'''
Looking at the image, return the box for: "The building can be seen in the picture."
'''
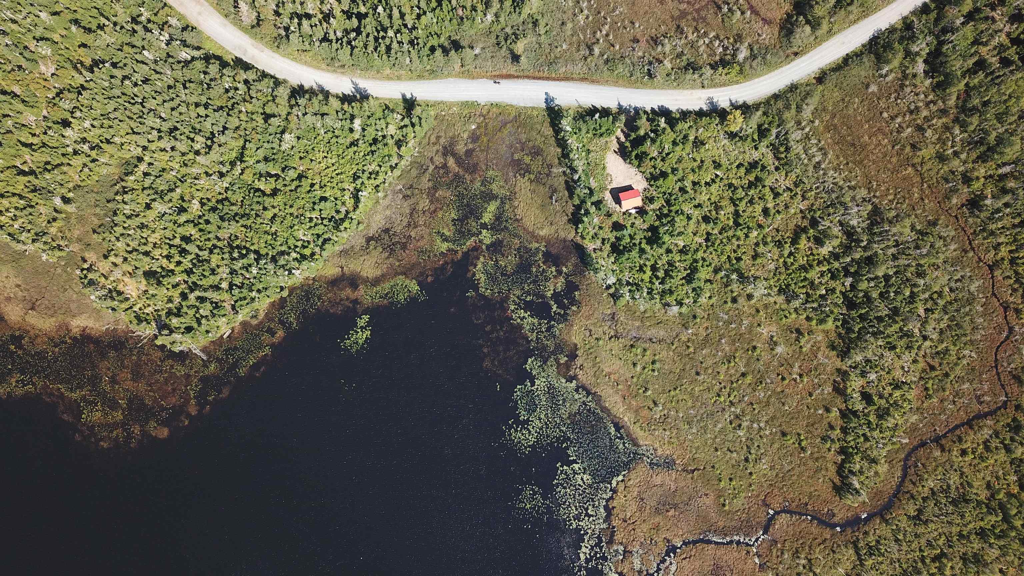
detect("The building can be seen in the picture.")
[619,190,642,211]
